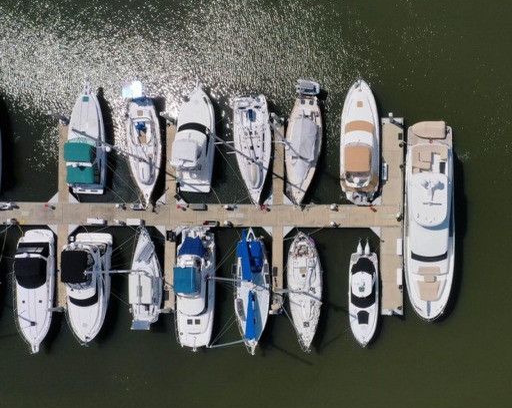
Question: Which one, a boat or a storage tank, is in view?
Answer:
boat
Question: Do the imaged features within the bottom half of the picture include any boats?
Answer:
Yes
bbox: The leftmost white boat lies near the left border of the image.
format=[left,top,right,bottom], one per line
[2,222,63,353]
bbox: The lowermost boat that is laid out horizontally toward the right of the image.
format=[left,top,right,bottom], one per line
[412,122,450,139]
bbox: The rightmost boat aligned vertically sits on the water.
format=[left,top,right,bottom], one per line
[401,126,455,320]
